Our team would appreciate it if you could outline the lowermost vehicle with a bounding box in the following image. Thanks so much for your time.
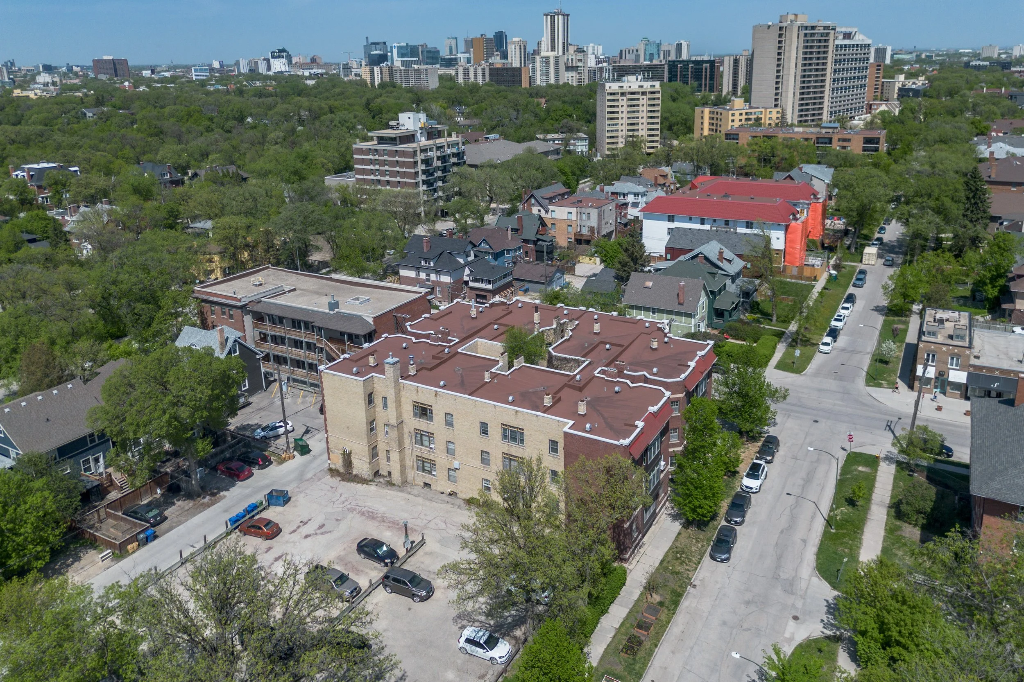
[457,624,514,664]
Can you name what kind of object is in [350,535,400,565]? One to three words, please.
car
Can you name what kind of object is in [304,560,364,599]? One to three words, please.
truck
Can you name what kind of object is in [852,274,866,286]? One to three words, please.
vehicle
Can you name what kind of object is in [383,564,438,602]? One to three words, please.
car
